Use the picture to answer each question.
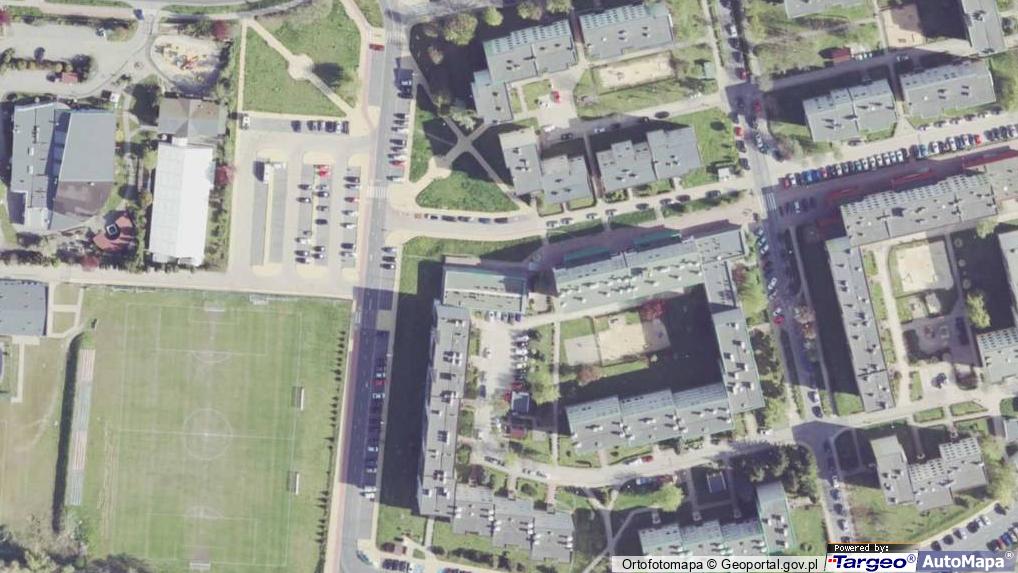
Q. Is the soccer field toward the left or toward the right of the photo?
left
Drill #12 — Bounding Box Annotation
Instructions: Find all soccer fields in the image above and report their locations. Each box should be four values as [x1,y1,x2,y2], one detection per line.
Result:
[70,292,352,573]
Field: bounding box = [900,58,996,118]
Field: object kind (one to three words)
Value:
building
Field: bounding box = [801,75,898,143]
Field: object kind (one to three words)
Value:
building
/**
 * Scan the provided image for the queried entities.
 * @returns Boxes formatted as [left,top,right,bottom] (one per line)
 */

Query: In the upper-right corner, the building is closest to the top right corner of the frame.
[962,0,1005,55]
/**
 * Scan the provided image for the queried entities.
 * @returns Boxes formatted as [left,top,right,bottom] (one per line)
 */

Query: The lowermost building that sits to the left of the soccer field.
[0,275,48,336]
